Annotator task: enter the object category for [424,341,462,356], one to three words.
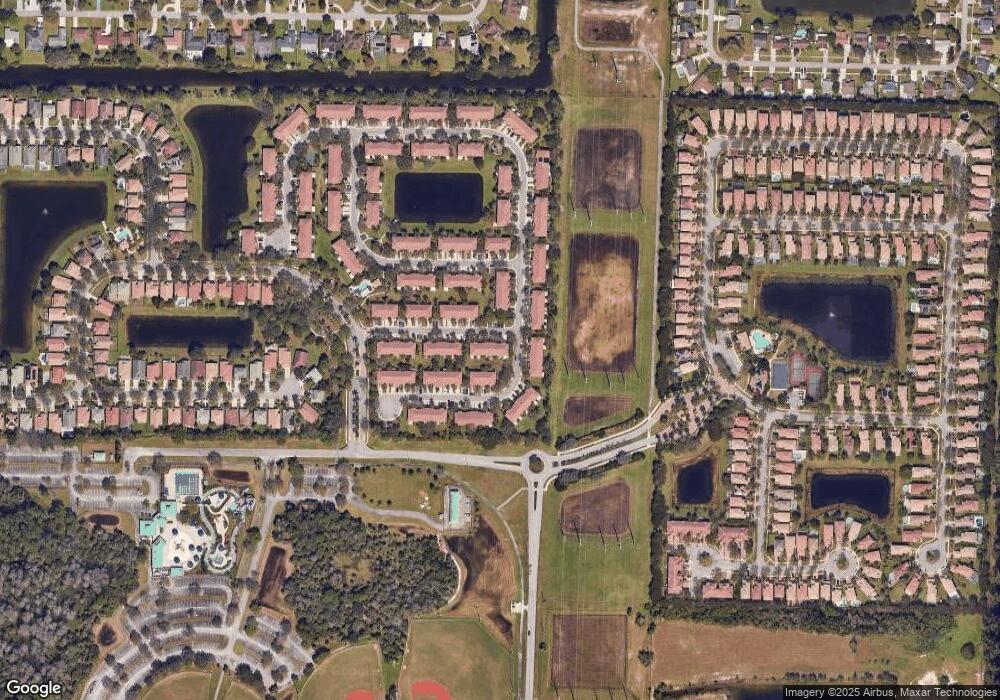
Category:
house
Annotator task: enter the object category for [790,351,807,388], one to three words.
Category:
tennis court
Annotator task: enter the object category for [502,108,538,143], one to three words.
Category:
house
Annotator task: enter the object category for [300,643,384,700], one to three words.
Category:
sports field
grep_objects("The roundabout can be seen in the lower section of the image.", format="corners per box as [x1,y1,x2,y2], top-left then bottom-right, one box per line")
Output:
[494,449,558,511]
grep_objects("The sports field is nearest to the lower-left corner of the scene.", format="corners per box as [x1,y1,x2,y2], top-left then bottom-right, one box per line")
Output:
[137,666,209,700]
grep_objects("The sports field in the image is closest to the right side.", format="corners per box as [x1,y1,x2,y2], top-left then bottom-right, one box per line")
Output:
[402,620,513,700]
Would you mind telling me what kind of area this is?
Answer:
residential area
